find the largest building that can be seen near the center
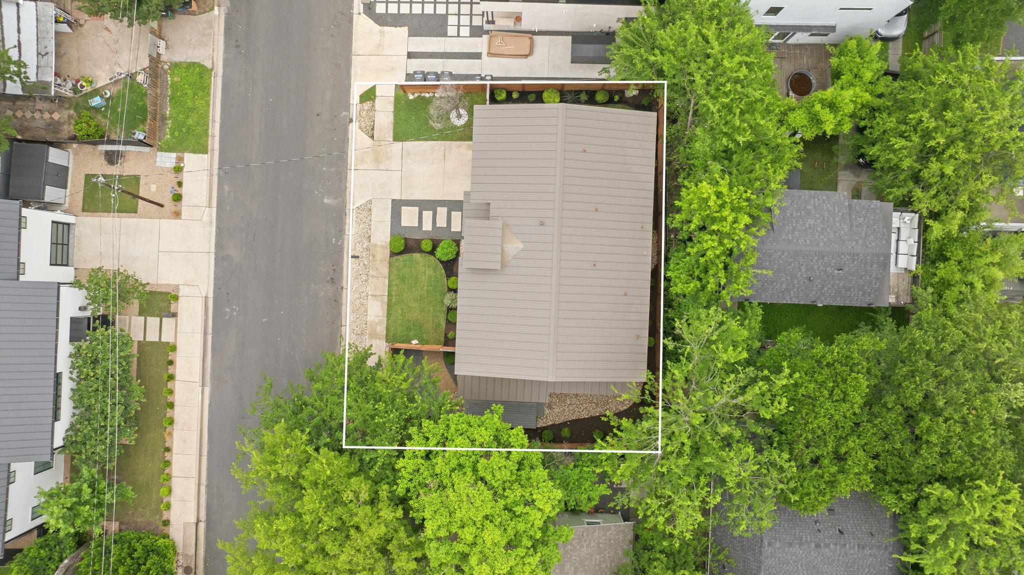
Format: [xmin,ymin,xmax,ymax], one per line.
[454,103,657,405]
